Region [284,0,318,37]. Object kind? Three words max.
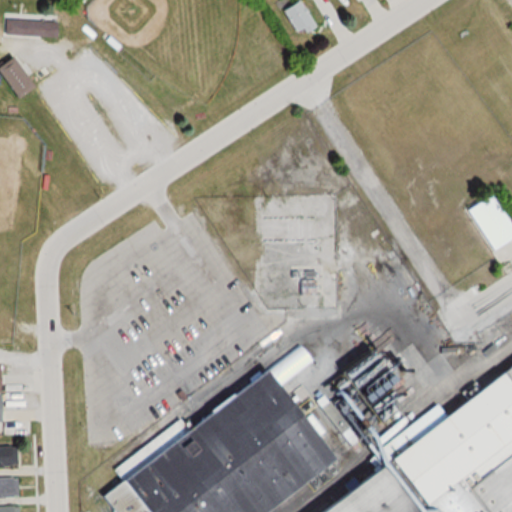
house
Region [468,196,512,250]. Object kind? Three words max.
shed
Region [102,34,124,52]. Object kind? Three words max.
vehicle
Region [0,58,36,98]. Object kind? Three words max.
building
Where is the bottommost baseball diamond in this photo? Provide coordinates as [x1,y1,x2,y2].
[0,134,26,232]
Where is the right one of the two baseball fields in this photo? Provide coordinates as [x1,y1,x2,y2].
[86,0,240,106]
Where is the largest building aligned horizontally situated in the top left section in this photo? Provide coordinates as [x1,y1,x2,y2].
[5,18,60,38]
